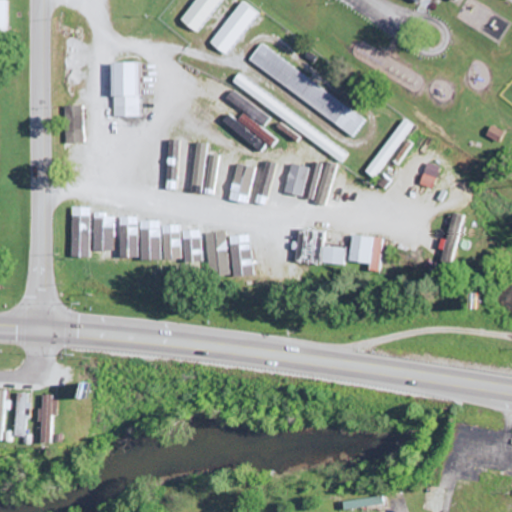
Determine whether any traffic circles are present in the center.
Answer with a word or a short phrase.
No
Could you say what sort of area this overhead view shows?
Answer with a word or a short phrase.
residential area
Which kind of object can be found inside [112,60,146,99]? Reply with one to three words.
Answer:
building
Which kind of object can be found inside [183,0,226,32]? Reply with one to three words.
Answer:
barn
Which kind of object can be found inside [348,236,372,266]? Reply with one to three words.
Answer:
shed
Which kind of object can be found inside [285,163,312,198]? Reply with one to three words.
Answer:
house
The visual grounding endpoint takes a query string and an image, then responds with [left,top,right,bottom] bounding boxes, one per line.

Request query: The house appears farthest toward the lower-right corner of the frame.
[342,493,386,510]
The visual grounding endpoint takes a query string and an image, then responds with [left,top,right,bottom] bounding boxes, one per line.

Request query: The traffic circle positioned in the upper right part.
[404,14,451,58]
